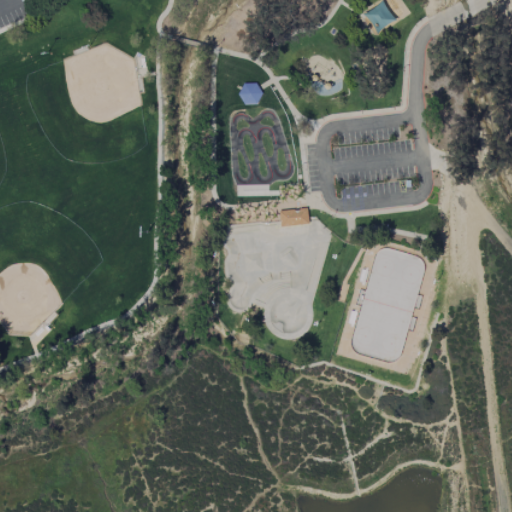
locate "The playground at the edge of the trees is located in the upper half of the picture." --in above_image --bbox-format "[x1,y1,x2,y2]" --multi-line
[308,55,344,96]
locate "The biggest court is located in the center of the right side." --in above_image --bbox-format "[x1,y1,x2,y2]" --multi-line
[354,247,424,362]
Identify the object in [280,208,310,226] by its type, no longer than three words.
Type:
building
